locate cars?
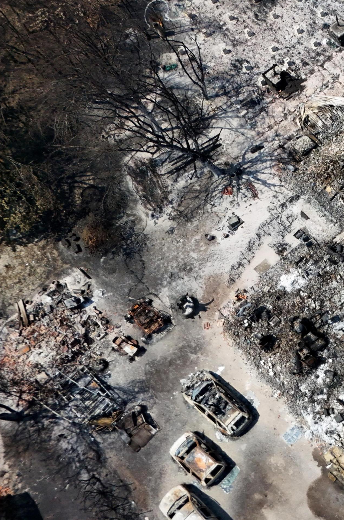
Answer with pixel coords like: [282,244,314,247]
[185,371,252,438]
[174,434,228,486]
[163,488,218,520]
